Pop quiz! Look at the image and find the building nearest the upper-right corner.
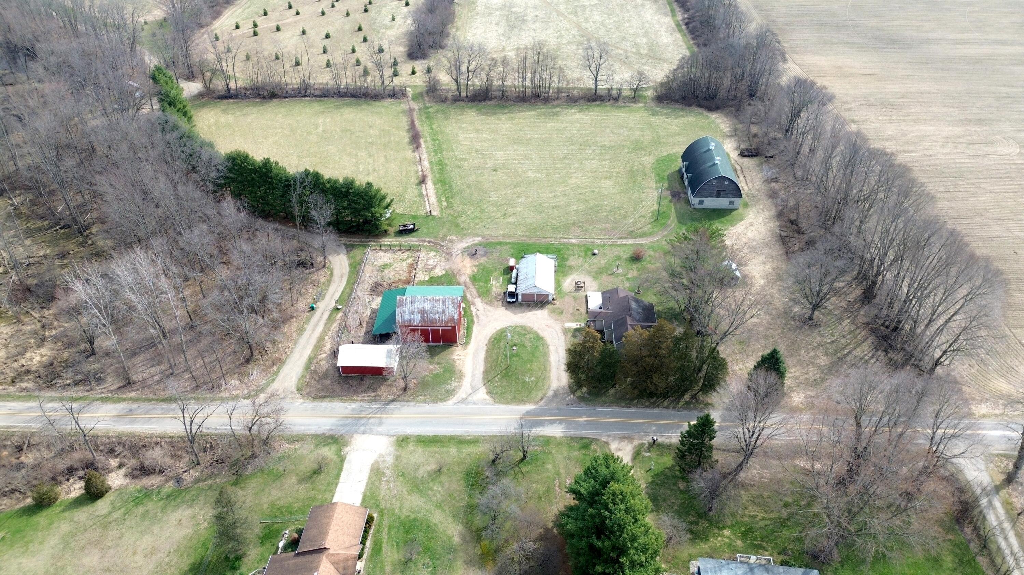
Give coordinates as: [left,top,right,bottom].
[679,135,744,209]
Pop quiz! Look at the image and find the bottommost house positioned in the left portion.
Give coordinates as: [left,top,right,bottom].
[254,500,369,575]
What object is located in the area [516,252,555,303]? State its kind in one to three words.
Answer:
building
